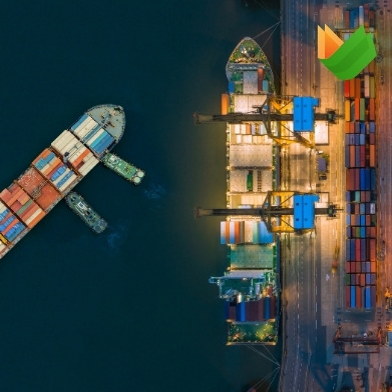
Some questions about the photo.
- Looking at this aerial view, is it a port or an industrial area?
port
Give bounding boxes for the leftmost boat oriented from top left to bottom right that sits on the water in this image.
[67,191,108,234]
